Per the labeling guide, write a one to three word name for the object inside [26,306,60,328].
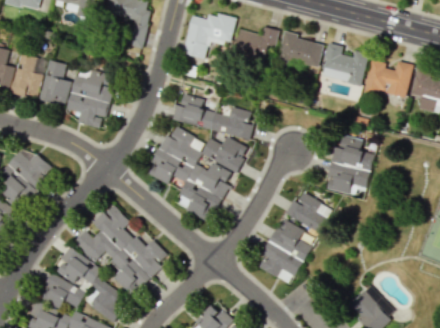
house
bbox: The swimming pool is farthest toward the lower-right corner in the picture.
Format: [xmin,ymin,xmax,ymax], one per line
[378,275,410,306]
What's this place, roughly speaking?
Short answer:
residential area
